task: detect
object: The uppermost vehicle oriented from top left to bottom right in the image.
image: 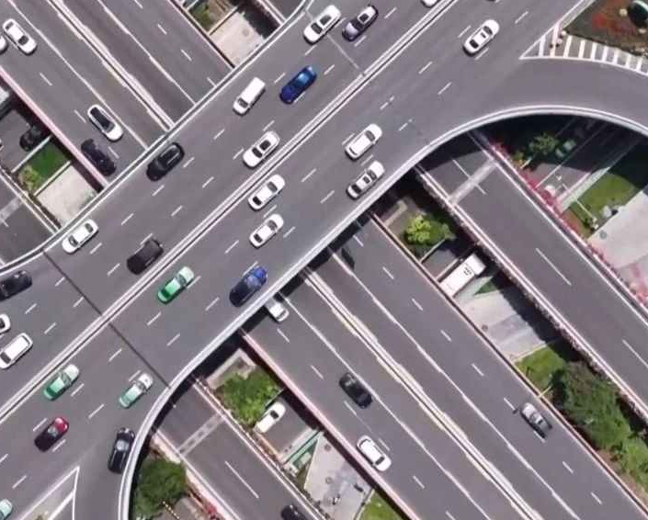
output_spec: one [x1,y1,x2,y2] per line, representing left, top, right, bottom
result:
[0,16,40,57]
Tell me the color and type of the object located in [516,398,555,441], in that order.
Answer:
gray car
